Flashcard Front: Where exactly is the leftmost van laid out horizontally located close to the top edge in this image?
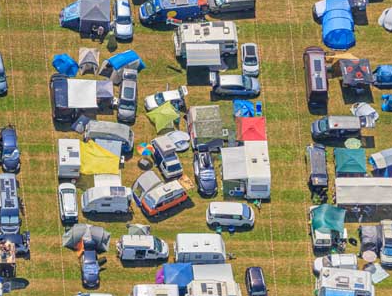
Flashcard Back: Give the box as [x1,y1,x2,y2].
[138,0,201,29]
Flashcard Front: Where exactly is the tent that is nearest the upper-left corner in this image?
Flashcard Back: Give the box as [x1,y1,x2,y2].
[59,0,82,34]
